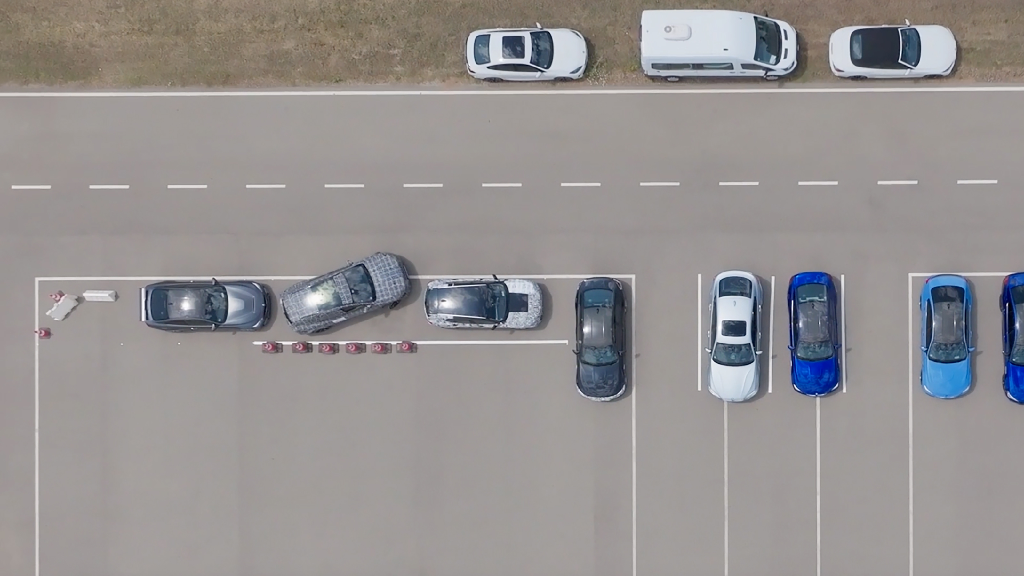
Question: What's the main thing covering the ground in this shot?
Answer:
paved ground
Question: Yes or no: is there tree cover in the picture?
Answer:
No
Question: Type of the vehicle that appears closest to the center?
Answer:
automobile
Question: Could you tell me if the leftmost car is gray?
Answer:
Yes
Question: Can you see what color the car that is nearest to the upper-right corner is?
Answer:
white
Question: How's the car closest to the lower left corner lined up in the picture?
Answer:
from left to right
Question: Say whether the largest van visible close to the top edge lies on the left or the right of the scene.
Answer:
right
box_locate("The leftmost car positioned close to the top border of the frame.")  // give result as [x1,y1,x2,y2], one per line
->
[465,20,589,83]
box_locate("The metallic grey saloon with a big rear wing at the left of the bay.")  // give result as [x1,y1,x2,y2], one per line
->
[139,275,274,335]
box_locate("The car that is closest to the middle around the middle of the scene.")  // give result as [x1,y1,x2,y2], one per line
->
[423,272,544,333]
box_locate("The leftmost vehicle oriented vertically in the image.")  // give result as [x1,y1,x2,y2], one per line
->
[569,276,629,402]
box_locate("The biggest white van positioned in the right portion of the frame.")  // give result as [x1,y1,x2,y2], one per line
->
[639,9,798,78]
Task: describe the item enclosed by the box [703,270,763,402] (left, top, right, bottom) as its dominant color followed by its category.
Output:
white car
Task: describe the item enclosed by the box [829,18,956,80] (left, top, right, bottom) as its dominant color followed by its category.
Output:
white car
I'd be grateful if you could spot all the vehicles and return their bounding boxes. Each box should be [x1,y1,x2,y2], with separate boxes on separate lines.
[139,275,274,335]
[703,270,763,402]
[569,276,629,402]
[829,18,956,80]
[785,271,845,397]
[1000,272,1024,404]
[465,20,589,83]
[639,9,798,78]
[423,272,544,333]
[279,252,413,335]
[918,274,978,400]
